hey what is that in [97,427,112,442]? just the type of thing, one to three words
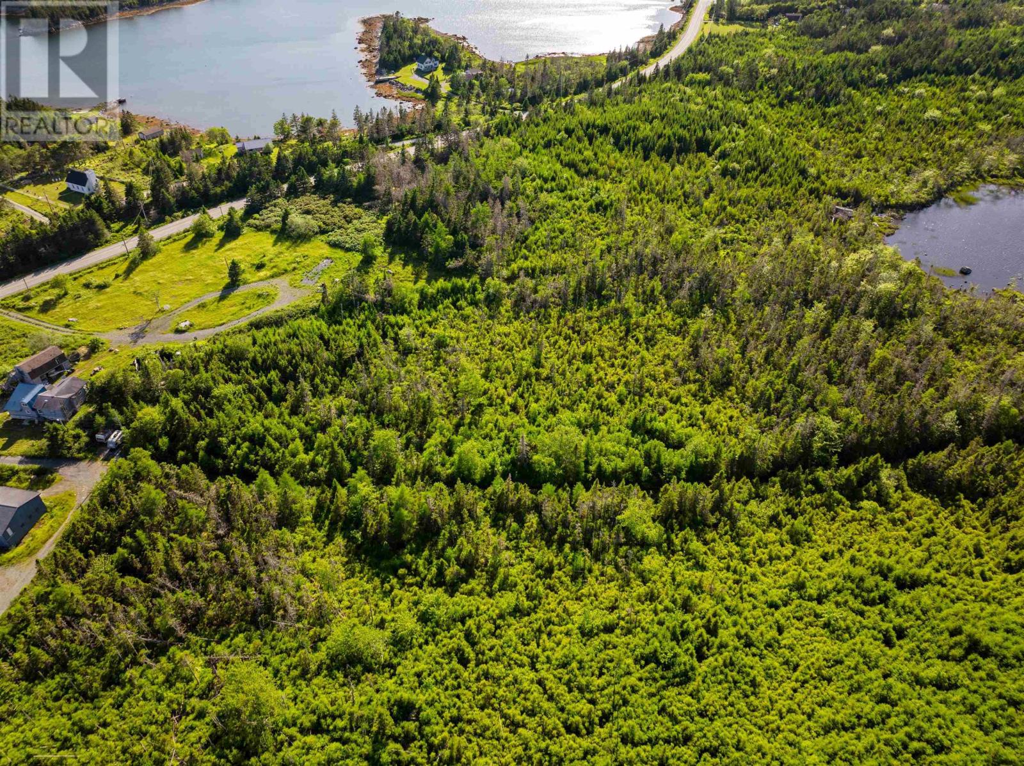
vehicle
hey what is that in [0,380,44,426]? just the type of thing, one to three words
house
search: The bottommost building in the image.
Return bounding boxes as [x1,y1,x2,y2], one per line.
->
[0,484,46,546]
